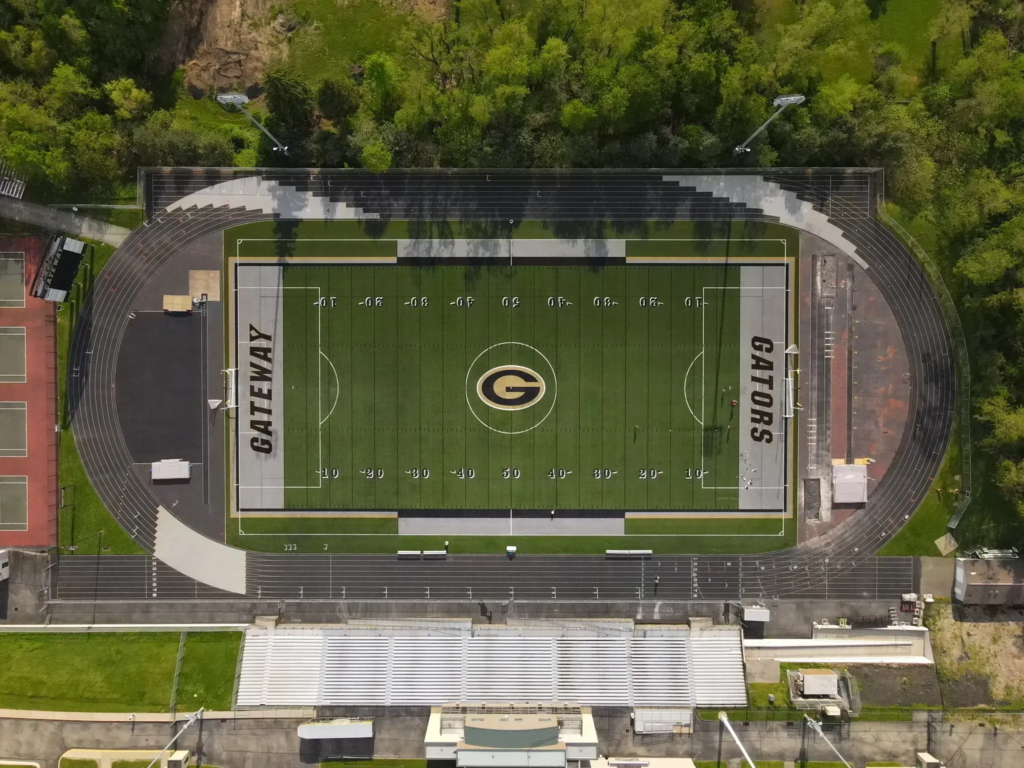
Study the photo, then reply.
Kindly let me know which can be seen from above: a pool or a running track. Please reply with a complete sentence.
I can see a running track in this picture.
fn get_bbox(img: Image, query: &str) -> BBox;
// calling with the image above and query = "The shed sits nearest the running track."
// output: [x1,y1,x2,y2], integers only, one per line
[742,605,771,623]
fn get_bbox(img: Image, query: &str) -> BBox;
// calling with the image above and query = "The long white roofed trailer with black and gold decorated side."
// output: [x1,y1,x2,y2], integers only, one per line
[296,717,374,739]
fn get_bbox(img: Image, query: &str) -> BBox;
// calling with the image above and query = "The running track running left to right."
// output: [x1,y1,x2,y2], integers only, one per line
[51,170,954,600]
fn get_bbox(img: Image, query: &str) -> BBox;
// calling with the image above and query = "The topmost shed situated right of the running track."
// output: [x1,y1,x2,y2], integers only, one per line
[955,558,1024,607]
